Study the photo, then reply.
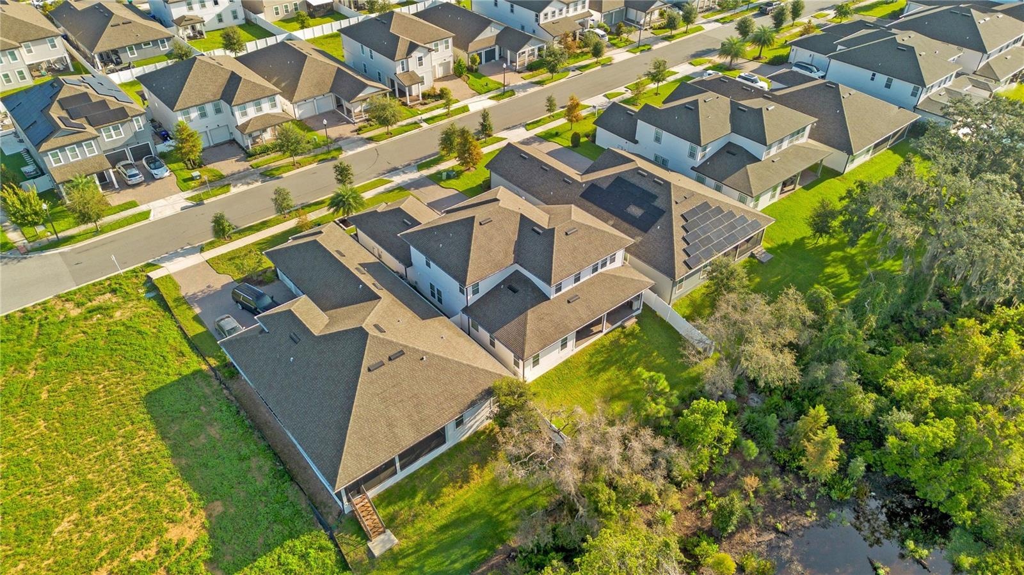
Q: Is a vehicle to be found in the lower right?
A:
No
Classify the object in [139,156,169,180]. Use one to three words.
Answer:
car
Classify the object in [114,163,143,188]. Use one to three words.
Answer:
car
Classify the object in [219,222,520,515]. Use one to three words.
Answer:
house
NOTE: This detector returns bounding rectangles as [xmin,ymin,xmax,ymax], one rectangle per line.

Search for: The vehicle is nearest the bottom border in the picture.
[214,311,247,339]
